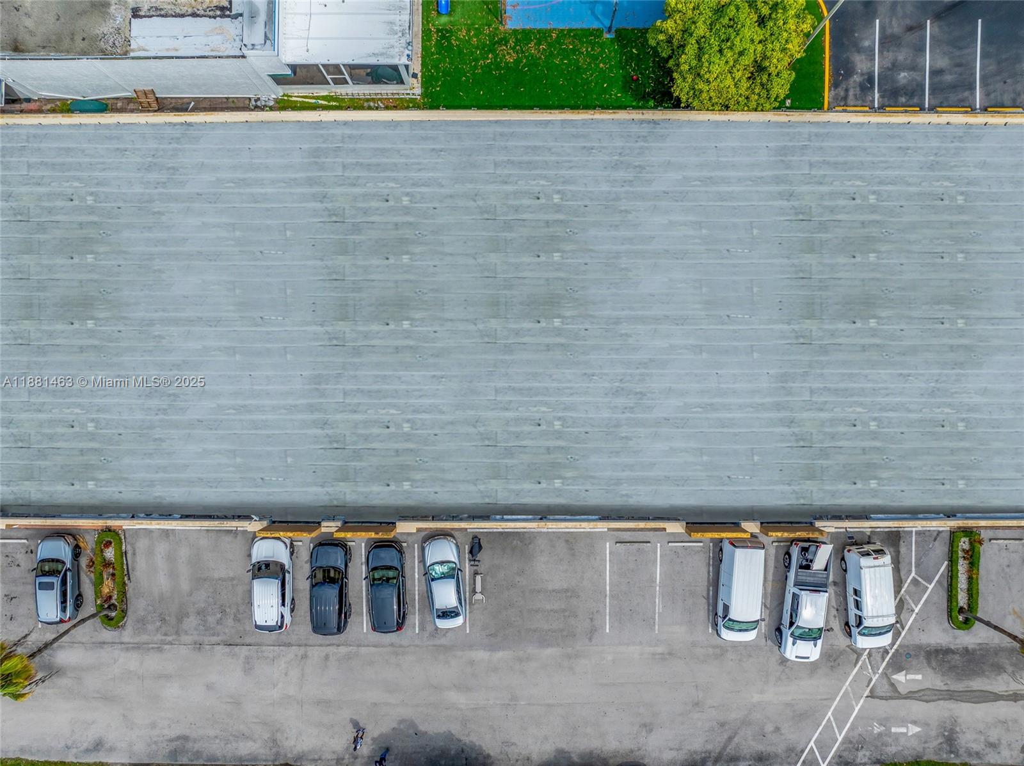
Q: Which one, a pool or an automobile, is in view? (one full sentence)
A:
This aerial view contains an automobile.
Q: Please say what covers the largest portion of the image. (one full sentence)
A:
The bulk of the photo consists of buildings.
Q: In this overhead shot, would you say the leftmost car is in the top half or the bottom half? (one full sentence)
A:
The leftmost car sits in the bottom half of the picture.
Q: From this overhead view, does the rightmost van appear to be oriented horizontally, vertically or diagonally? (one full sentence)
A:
The rightmost van is oriented vertically.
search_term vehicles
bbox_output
[775,539,835,662]
[28,533,86,625]
[303,538,352,636]
[245,539,297,633]
[842,540,902,648]
[716,539,770,642]
[421,535,467,630]
[361,540,407,634]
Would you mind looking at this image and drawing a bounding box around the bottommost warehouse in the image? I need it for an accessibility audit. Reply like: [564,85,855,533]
[0,111,1024,539]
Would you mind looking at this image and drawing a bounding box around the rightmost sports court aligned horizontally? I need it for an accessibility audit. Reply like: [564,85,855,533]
[506,0,722,36]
